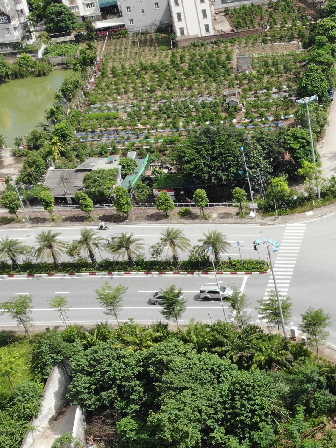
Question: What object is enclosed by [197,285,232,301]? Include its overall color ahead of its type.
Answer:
white car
